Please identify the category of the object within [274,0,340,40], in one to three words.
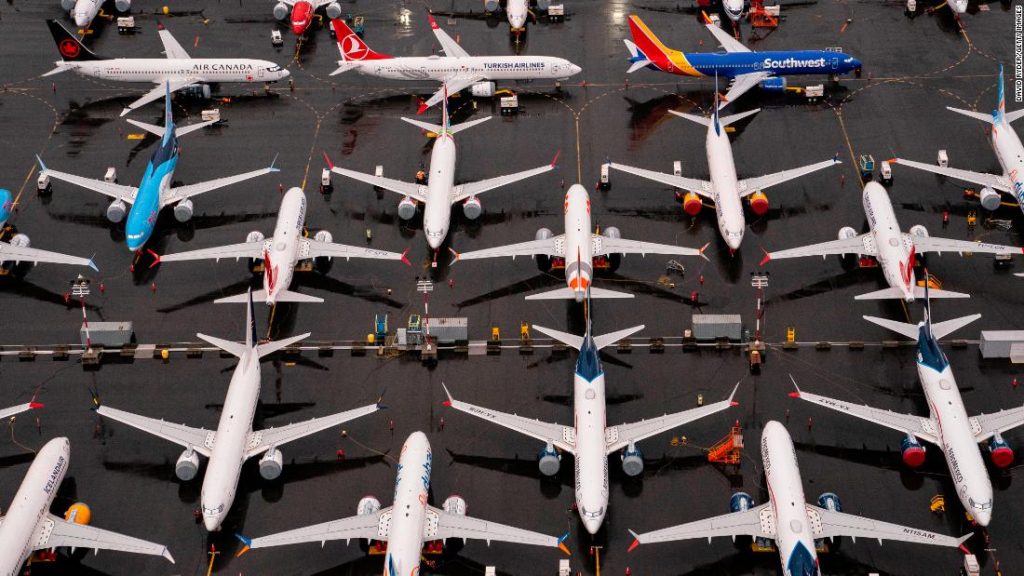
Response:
airplane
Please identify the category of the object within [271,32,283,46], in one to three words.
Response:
vehicle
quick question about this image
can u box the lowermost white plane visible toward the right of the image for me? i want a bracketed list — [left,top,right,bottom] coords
[632,424,969,576]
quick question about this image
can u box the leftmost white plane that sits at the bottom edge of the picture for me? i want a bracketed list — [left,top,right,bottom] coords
[0,439,173,576]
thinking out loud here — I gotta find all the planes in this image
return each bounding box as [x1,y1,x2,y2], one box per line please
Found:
[447,182,710,304]
[793,274,1024,524]
[0,191,99,276]
[324,77,561,253]
[0,385,46,421]
[235,431,569,576]
[274,0,340,40]
[632,424,969,576]
[765,180,1024,303]
[42,18,289,116]
[40,78,278,255]
[624,11,863,110]
[0,439,173,576]
[149,185,410,308]
[890,68,1024,222]
[91,285,387,535]
[602,71,841,249]
[334,15,580,113]
[944,0,966,19]
[442,285,740,534]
